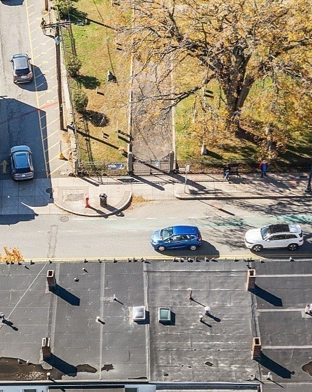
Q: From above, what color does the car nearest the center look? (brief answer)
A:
blue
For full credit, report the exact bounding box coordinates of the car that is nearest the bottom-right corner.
[243,223,305,251]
